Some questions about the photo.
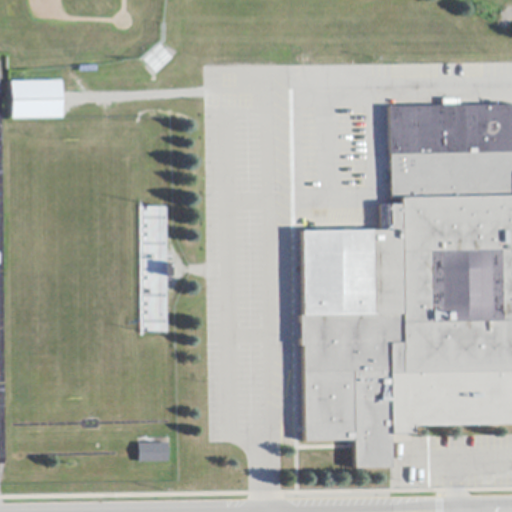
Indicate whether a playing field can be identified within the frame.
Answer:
Yes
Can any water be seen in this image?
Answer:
No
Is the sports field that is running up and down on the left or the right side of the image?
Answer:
left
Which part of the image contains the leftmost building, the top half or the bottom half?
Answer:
top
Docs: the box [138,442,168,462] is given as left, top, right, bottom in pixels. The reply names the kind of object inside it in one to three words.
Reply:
shed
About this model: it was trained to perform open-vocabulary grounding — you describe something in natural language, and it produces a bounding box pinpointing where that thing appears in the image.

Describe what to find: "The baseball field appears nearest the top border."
[30,0,132,28]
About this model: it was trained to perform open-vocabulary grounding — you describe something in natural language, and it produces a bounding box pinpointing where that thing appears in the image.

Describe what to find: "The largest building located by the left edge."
[12,79,64,119]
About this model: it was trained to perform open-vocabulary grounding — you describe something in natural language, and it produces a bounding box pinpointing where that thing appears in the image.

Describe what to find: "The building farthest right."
[300,103,512,468]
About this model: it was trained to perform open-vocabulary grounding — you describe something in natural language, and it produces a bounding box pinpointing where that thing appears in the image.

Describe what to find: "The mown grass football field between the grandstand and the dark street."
[11,124,133,417]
